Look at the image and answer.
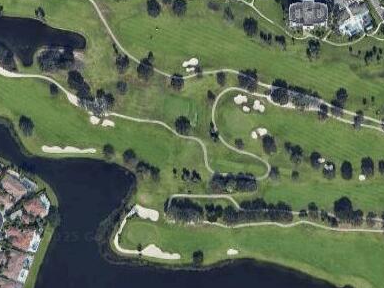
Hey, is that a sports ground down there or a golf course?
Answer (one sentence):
This looks like a golf course.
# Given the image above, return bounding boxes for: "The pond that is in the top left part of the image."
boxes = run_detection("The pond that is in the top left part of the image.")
[0,17,85,64]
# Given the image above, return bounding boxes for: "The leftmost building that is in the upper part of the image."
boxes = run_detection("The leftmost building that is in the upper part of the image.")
[288,0,327,29]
